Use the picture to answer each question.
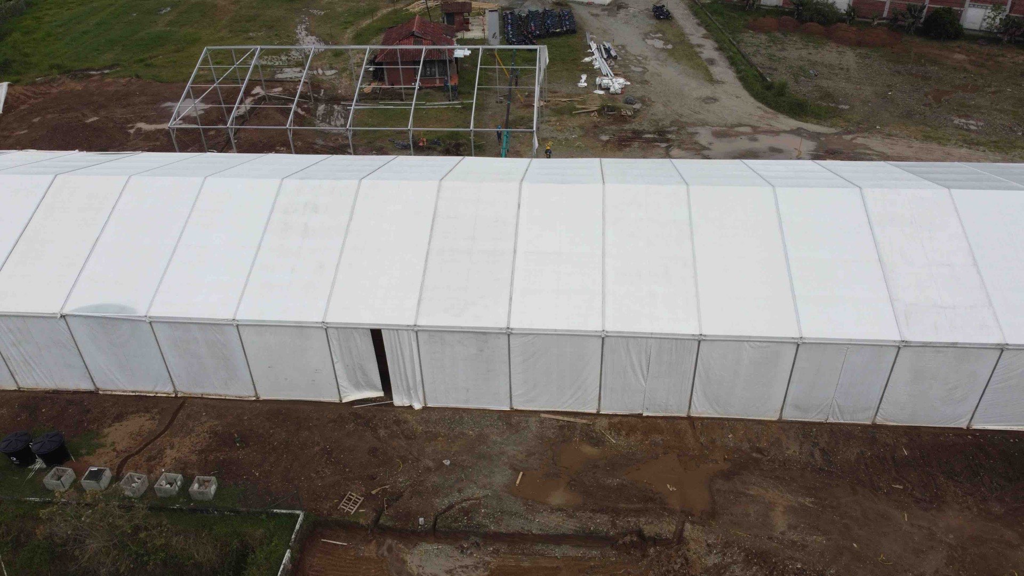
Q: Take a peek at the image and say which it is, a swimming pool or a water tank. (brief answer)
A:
water tank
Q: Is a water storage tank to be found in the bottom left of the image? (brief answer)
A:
Yes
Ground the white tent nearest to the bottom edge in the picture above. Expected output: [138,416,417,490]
[0,149,1024,432]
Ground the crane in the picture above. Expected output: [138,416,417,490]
[499,49,517,157]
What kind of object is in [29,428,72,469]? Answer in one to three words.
water tank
